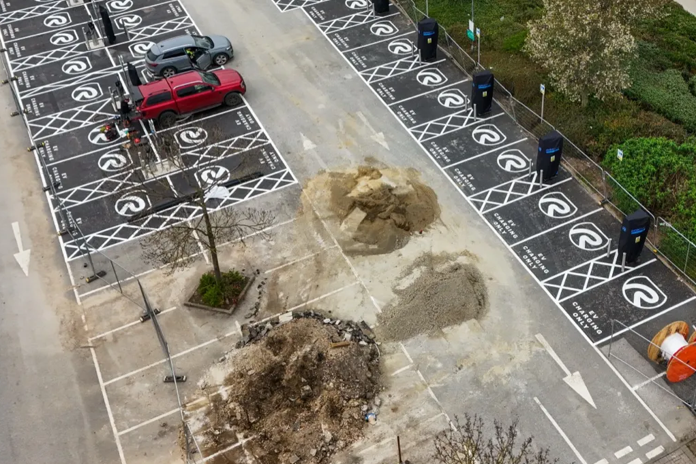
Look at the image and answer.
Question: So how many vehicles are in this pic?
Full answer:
In total, 2 vehicles can be seen.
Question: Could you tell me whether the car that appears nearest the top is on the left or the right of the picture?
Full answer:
The car that appears nearest the top is on the left side of the image.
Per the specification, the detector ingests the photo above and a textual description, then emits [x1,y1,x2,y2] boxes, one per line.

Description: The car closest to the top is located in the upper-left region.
[140,36,231,83]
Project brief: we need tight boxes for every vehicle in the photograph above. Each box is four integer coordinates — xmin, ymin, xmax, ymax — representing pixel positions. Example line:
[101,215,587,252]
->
[140,36,231,83]
[117,68,247,127]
